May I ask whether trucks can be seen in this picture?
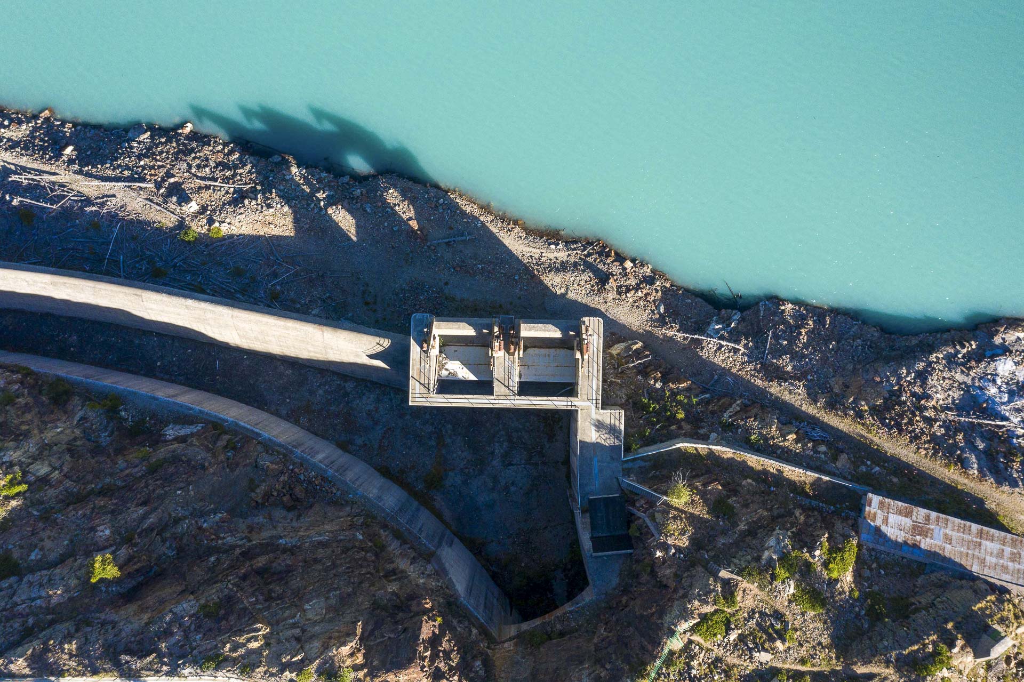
No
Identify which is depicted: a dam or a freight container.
dam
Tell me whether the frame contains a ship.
No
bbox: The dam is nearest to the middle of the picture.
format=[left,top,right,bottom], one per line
[408,314,604,410]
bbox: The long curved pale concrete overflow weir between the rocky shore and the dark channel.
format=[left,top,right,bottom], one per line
[0,259,409,391]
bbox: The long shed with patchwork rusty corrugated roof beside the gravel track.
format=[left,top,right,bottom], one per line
[856,490,1024,588]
